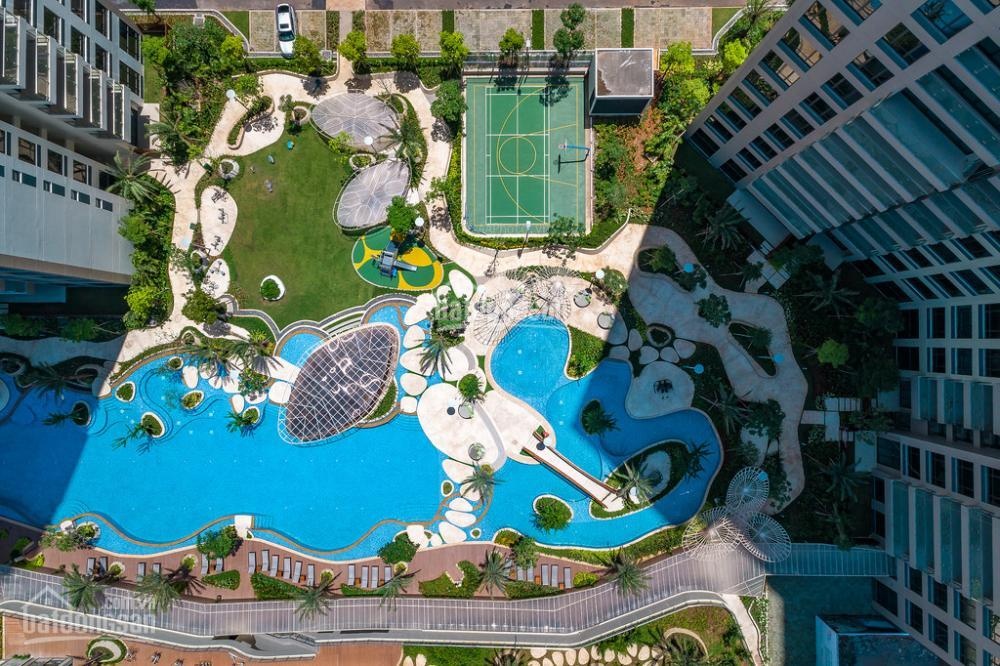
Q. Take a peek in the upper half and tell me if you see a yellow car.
No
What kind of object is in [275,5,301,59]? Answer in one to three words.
car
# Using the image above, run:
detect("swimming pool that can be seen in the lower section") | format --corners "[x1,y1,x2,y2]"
[0,297,724,563]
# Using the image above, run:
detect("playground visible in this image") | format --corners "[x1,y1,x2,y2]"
[351,225,445,291]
